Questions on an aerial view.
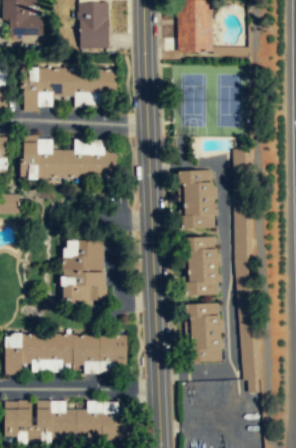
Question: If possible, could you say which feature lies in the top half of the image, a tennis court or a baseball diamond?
tennis court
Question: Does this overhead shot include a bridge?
No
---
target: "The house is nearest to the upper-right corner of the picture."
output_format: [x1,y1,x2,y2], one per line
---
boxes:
[178,0,214,52]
